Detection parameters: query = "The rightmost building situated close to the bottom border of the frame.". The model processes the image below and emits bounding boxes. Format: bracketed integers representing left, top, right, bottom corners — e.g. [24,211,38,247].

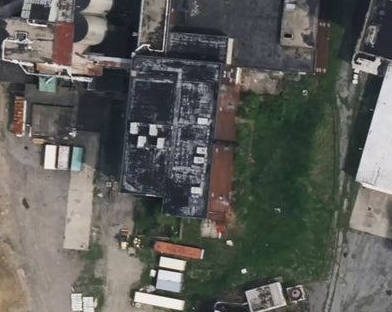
[246,281,291,312]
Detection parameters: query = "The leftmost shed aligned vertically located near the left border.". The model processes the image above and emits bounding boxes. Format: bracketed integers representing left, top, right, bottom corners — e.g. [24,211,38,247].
[13,96,29,138]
